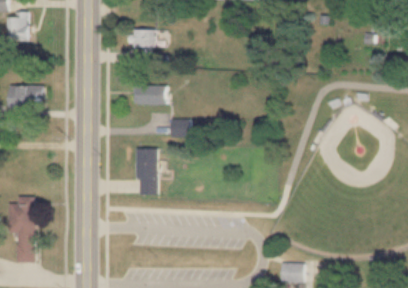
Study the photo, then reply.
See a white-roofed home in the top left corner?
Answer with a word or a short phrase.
Yes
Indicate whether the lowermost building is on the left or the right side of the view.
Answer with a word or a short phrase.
right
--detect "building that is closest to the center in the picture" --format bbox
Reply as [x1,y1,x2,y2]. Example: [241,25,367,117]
[170,118,192,137]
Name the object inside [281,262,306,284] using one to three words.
building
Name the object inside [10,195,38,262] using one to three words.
house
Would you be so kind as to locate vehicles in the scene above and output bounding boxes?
[77,262,82,274]
[157,128,171,133]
